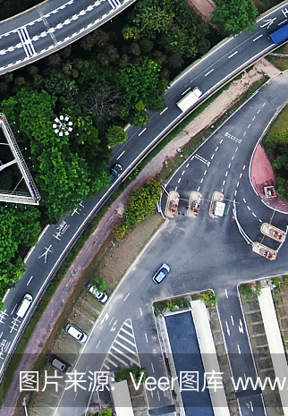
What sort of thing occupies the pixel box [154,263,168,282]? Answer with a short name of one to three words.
vehicle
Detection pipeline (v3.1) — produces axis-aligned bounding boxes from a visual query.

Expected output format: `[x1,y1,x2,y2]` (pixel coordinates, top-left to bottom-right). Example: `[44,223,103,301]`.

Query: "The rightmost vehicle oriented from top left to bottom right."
[88,283,107,301]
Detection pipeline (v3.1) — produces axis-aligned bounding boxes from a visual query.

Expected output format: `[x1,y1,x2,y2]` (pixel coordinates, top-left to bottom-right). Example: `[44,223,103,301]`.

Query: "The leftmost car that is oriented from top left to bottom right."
[49,353,70,371]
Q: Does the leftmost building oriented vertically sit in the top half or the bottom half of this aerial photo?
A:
bottom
